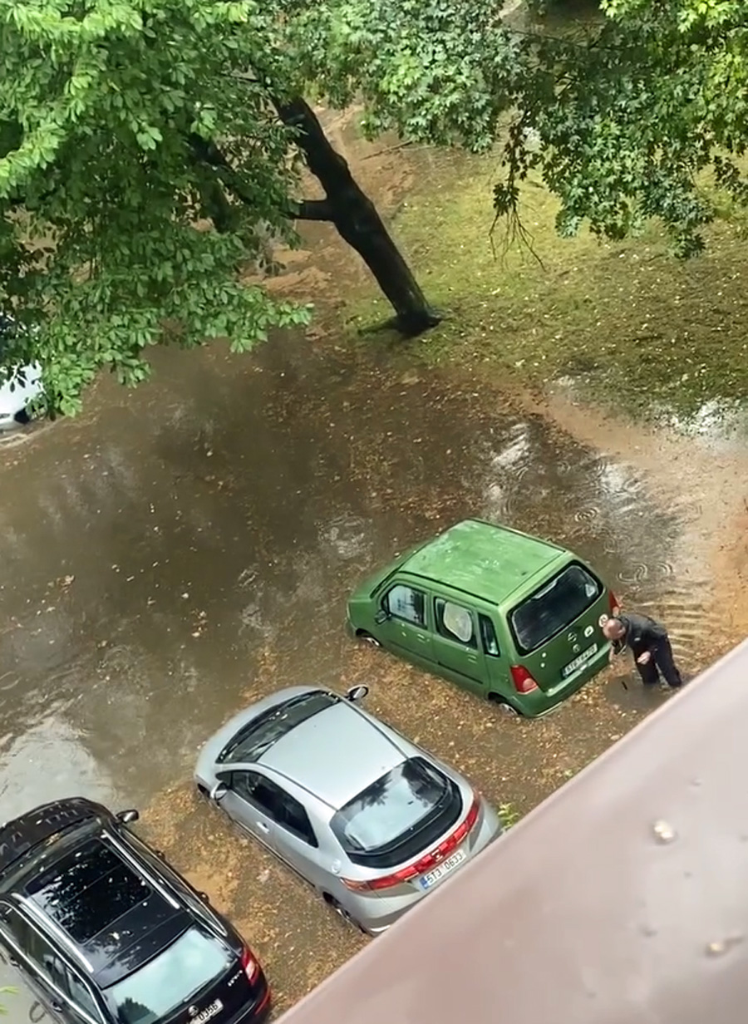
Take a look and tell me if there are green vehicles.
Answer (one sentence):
Yes, this view includes a green vehicle.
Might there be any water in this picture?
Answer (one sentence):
Yes, some water is visible.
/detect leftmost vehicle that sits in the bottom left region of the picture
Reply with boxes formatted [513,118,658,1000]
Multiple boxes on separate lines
[0,807,274,1024]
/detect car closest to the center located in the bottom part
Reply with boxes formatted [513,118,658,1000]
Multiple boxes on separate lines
[352,520,612,713]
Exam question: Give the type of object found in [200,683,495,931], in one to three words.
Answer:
car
